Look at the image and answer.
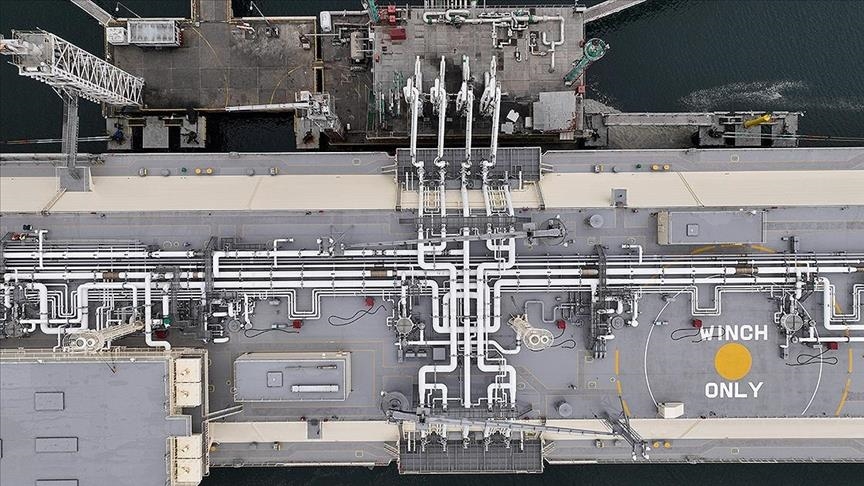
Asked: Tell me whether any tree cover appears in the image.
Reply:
No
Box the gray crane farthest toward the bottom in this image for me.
[381,392,623,436]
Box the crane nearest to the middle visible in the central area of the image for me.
[345,219,568,248]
